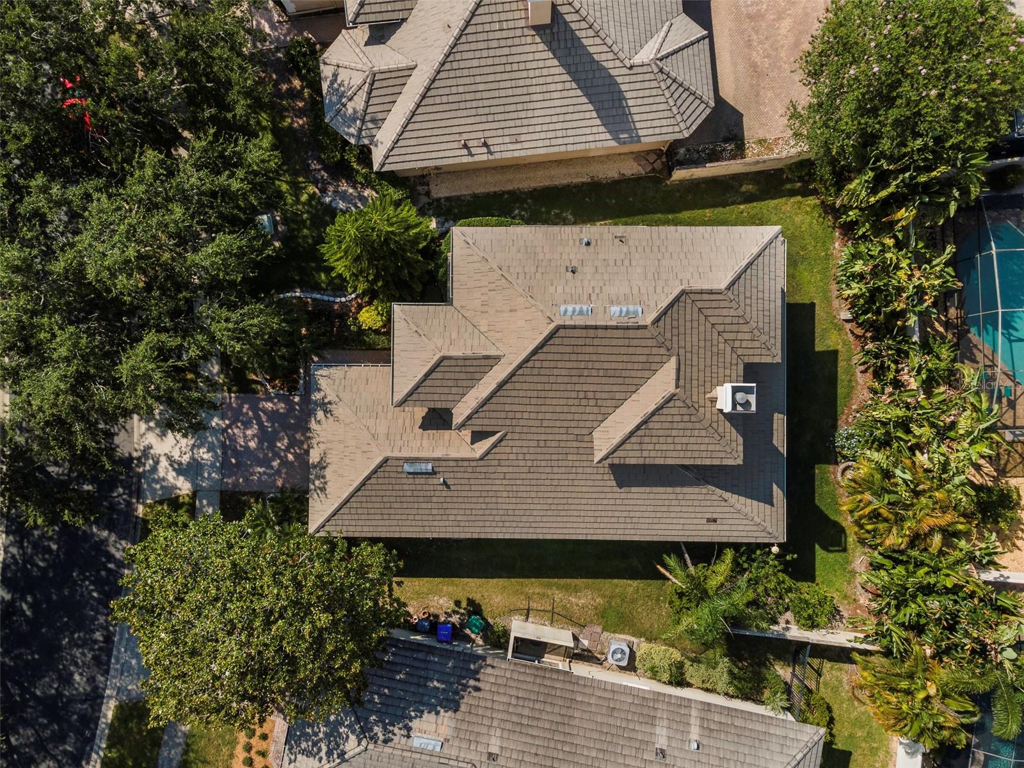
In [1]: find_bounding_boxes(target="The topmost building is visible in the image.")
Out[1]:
[276,0,716,176]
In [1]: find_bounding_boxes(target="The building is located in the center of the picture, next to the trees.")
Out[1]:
[307,223,788,550]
